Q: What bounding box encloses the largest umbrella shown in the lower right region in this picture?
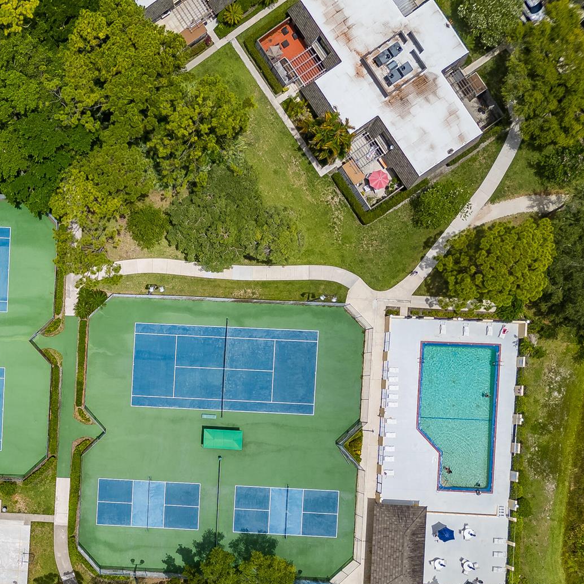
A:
[435,525,452,543]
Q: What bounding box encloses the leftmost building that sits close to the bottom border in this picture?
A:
[367,498,427,584]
